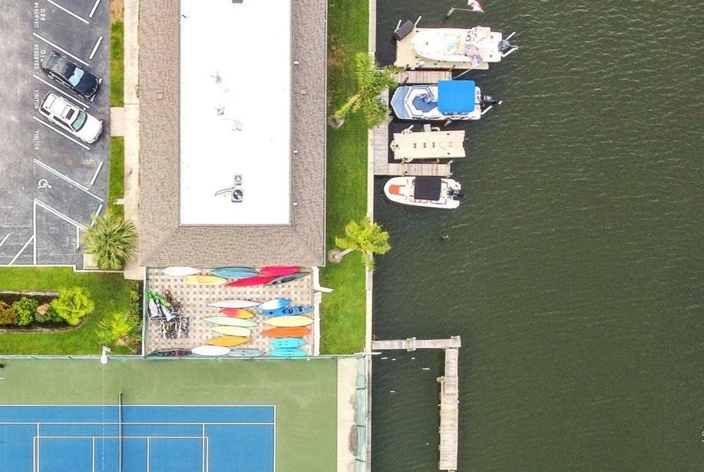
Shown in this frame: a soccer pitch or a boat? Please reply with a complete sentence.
This aerial view contains a boat.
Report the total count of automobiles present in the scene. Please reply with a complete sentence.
Looking from above, you can make out 2 automobiles.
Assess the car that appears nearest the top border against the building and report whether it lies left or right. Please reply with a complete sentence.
You can see the car that appears nearest the top border positioned to the left of the building.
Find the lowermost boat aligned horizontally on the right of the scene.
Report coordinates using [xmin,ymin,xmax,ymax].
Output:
[383,175,469,208]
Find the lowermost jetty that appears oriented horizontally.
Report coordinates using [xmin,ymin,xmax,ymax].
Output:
[389,162,452,181]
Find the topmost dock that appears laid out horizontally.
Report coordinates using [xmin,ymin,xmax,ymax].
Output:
[391,16,517,72]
